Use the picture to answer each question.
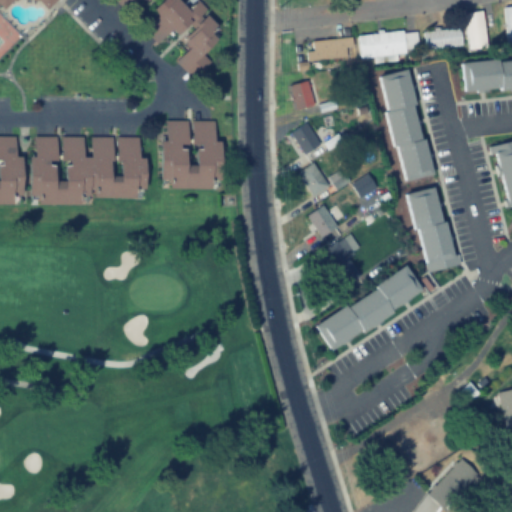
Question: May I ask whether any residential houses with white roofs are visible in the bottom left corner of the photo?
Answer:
No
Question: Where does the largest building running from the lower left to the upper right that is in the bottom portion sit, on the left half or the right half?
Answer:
right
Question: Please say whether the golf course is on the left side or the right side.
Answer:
left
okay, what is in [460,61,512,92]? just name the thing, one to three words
building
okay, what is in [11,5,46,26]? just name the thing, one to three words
swimming pool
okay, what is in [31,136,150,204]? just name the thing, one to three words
building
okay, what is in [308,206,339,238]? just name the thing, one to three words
house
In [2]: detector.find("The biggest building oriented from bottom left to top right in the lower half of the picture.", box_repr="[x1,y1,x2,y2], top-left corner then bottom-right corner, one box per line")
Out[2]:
[314,266,424,350]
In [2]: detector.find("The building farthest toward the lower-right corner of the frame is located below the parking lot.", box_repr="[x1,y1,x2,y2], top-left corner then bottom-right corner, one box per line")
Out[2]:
[430,460,480,510]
